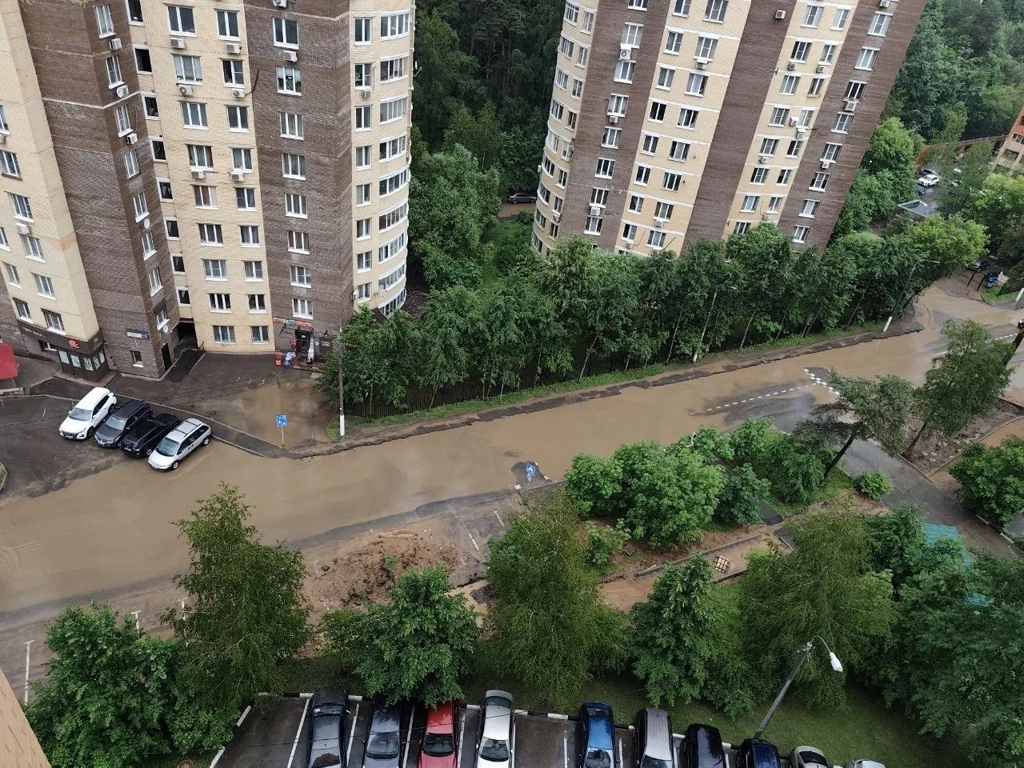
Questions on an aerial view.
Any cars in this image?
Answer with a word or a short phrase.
Yes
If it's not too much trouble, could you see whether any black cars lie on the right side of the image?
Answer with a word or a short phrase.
Yes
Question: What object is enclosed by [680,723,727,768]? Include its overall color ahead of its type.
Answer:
black car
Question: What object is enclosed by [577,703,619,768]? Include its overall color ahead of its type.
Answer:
blue car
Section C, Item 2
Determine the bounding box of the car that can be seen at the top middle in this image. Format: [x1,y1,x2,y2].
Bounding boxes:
[505,190,535,206]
